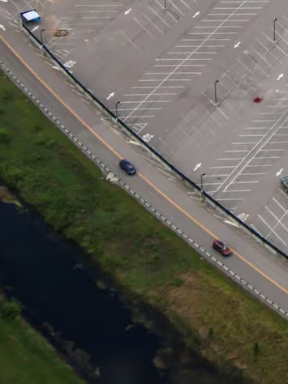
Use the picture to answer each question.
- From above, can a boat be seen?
No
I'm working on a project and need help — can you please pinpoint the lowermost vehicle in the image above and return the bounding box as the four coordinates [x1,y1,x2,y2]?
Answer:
[214,237,230,256]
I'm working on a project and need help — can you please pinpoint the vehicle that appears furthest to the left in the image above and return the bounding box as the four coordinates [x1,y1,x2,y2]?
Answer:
[120,159,135,175]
